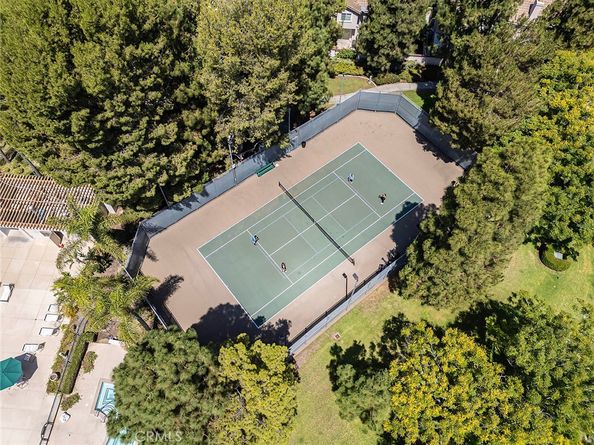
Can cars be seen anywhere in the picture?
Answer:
No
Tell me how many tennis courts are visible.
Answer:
1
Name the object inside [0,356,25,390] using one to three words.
umbrella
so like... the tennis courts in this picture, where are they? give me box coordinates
[138,110,463,368]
